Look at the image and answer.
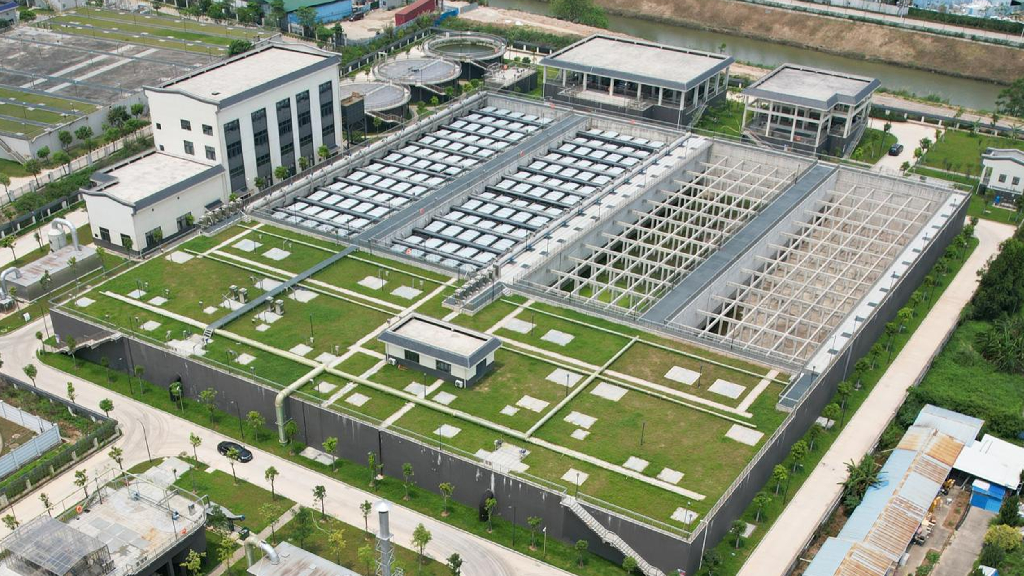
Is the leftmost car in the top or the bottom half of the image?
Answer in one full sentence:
Seen from above, the leftmost car lies in the bottom half of the view.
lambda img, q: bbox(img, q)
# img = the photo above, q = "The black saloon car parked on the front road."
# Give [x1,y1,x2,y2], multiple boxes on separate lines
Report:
[215,439,253,460]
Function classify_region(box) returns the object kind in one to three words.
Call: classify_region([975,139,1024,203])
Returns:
house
